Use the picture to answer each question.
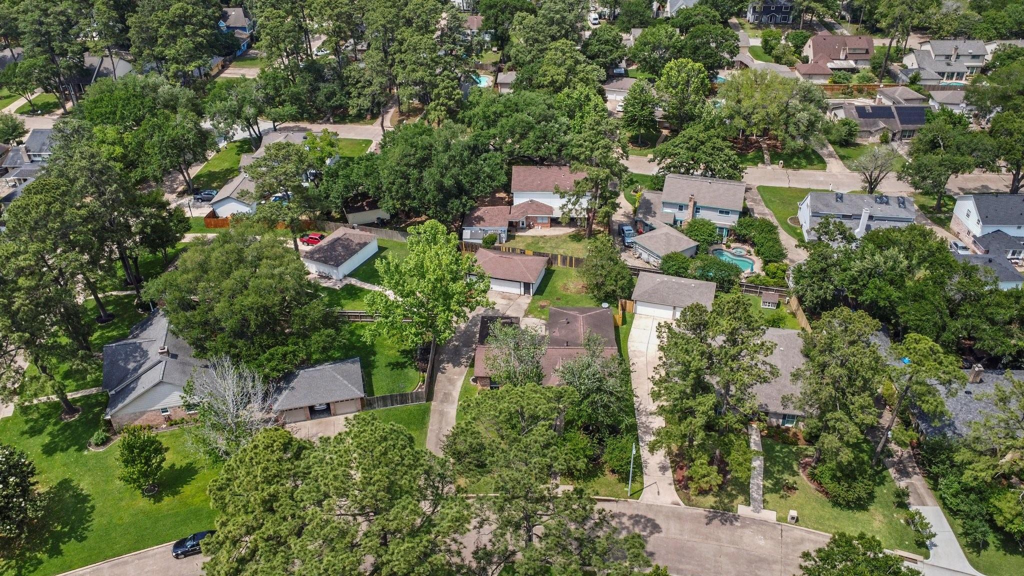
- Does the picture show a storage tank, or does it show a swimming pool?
swimming pool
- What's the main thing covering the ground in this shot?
trees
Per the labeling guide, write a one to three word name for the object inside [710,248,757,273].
swimming pool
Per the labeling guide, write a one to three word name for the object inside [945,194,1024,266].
house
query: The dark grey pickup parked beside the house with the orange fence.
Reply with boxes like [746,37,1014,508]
[187,185,223,201]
